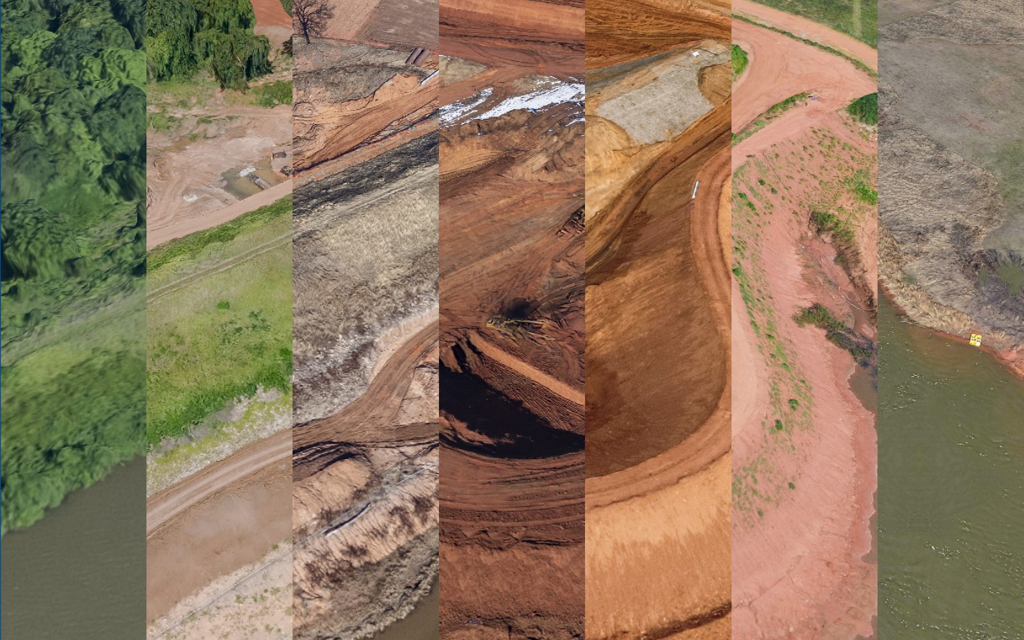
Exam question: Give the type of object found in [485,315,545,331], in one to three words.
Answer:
work vehicle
